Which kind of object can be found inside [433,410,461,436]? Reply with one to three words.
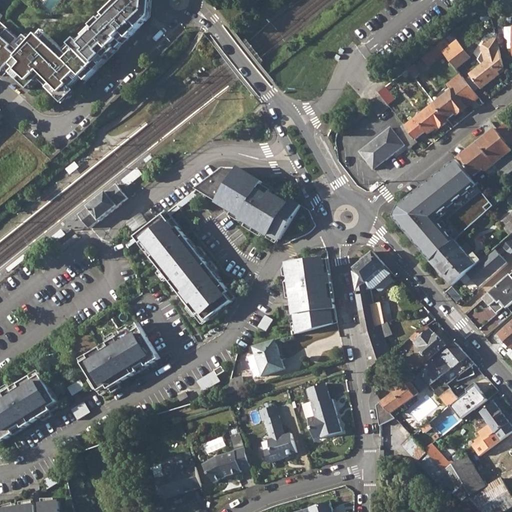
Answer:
swimming pool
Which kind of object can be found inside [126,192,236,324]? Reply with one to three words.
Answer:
building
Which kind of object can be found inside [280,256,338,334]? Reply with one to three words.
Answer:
building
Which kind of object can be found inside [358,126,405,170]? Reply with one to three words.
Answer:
house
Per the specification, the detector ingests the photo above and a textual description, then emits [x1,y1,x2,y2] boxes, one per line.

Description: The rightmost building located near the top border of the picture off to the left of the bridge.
[76,0,156,80]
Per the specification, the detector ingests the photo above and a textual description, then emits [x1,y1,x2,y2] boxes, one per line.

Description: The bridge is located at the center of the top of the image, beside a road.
[180,0,296,120]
